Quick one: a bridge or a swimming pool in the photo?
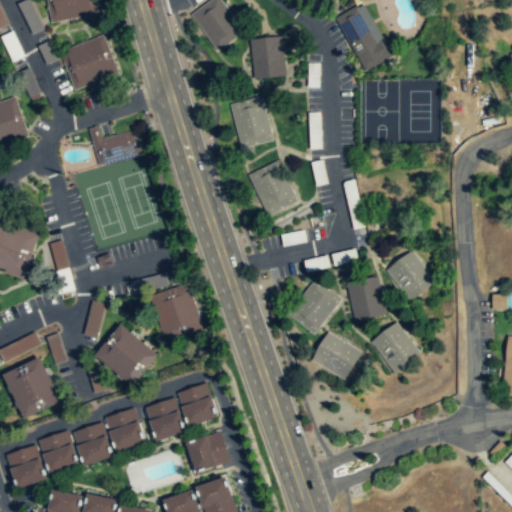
swimming pool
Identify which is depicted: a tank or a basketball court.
basketball court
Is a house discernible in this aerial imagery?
Yes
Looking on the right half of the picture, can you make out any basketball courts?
Yes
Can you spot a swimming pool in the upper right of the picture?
Yes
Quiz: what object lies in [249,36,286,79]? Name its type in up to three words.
building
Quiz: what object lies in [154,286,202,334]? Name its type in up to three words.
building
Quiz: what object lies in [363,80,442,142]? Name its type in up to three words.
basketball court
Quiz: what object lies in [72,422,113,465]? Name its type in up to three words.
house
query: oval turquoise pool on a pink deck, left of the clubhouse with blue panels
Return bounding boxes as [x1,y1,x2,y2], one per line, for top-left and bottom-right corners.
[62,140,98,172]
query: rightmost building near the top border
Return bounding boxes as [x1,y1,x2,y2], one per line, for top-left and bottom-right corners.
[337,6,390,70]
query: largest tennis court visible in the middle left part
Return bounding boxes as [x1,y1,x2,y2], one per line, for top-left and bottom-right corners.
[75,156,164,249]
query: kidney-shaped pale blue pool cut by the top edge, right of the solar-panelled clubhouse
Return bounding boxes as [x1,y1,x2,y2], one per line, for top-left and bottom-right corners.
[376,0,424,38]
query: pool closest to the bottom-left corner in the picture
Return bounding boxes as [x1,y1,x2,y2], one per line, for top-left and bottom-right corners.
[128,450,184,493]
